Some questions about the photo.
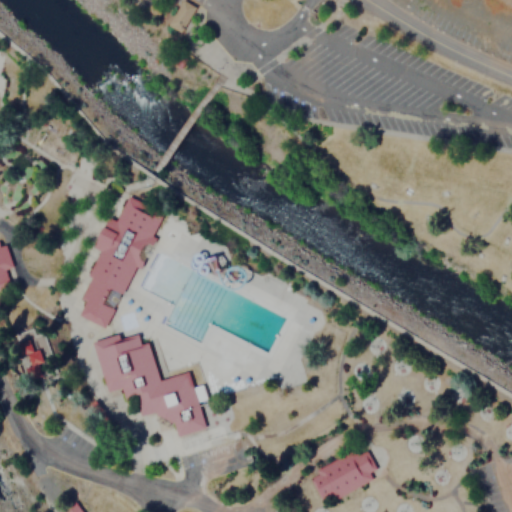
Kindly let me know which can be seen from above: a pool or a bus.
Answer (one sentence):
I can see a pool in this picture.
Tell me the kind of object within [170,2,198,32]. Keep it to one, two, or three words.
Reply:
shed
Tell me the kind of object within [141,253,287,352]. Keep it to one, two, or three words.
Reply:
swimming pool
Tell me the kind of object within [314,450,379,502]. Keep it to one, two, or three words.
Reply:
building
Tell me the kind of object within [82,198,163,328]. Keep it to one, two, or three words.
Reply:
building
